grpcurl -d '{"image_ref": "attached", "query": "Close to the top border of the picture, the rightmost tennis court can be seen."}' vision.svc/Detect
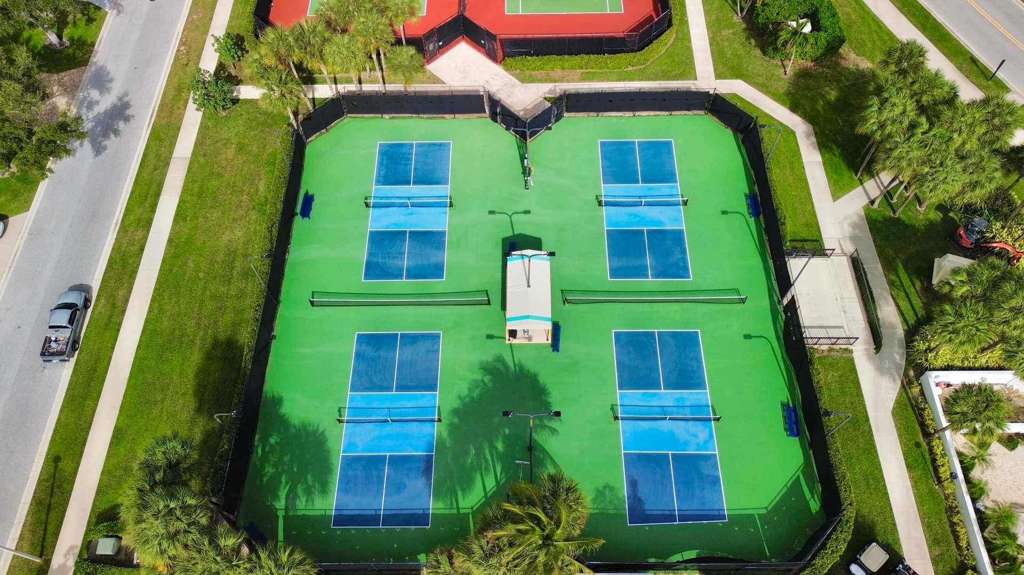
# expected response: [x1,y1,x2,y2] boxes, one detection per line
[462,0,668,65]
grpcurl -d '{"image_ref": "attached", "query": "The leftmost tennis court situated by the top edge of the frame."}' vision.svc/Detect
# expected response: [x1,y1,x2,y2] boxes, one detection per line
[263,0,464,66]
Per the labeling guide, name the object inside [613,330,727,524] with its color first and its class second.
blue sports court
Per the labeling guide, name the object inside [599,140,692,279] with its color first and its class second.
blue sports court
